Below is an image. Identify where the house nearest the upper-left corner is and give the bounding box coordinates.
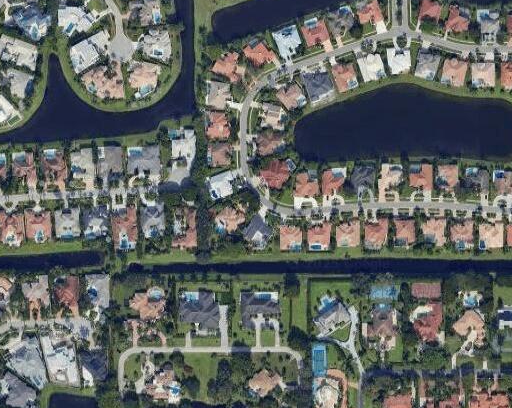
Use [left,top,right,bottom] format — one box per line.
[8,0,51,37]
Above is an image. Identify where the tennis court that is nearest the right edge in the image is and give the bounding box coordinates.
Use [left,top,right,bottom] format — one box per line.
[412,283,442,298]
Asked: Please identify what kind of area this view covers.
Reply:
residential area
